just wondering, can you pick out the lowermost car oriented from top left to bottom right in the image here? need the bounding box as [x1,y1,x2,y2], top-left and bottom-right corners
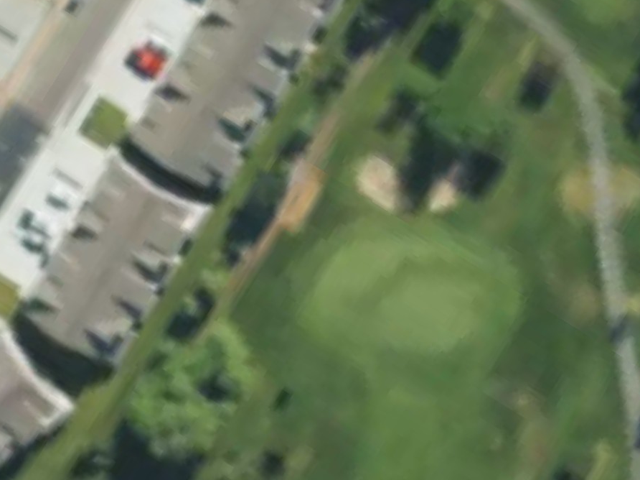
[18,214,59,246]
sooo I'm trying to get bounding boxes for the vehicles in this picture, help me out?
[66,0,85,11]
[44,177,81,207]
[18,214,59,246]
[128,43,167,76]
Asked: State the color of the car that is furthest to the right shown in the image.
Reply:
red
